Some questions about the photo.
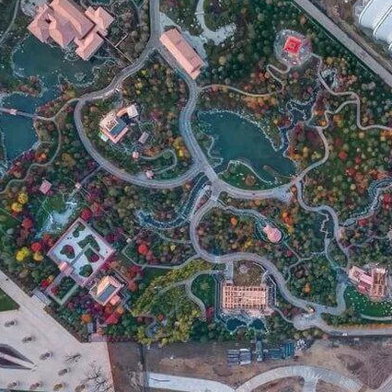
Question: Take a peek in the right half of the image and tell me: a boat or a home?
home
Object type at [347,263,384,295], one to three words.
house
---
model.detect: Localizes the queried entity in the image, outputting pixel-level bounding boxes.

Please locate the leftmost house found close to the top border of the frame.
[26,0,117,61]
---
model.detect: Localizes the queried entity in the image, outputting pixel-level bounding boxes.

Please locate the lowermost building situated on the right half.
[222,283,269,309]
